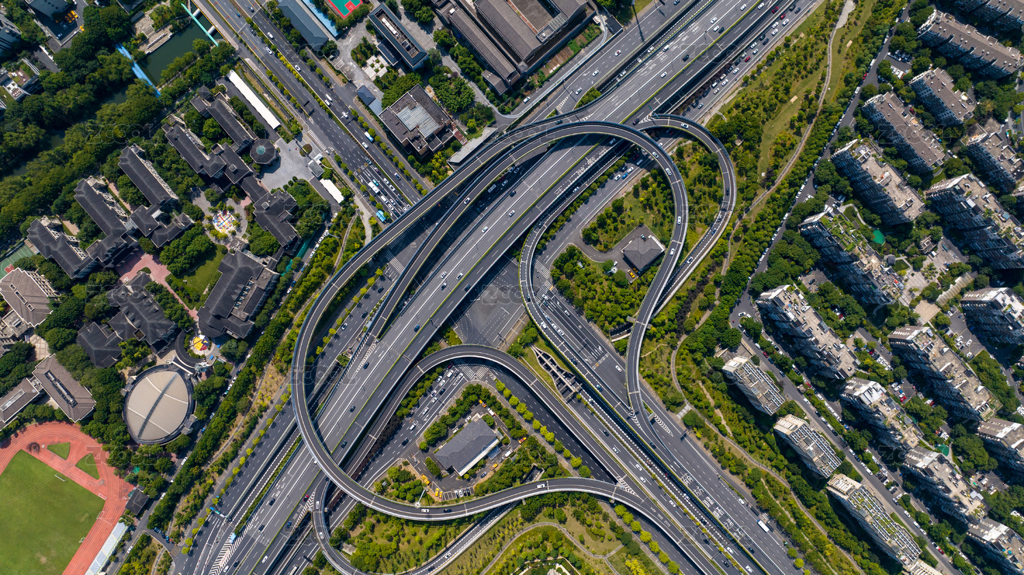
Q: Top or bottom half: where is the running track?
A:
bottom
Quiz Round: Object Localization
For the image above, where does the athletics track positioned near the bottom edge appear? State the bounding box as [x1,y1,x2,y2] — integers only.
[0,419,135,575]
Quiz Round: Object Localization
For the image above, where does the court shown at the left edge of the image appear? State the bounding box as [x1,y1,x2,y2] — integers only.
[0,242,35,279]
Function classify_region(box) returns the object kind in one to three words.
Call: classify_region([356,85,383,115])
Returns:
building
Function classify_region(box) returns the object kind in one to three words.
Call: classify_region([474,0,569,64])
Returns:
building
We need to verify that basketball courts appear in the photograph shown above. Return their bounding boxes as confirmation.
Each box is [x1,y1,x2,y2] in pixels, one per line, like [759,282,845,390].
[0,242,35,279]
[332,0,363,18]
